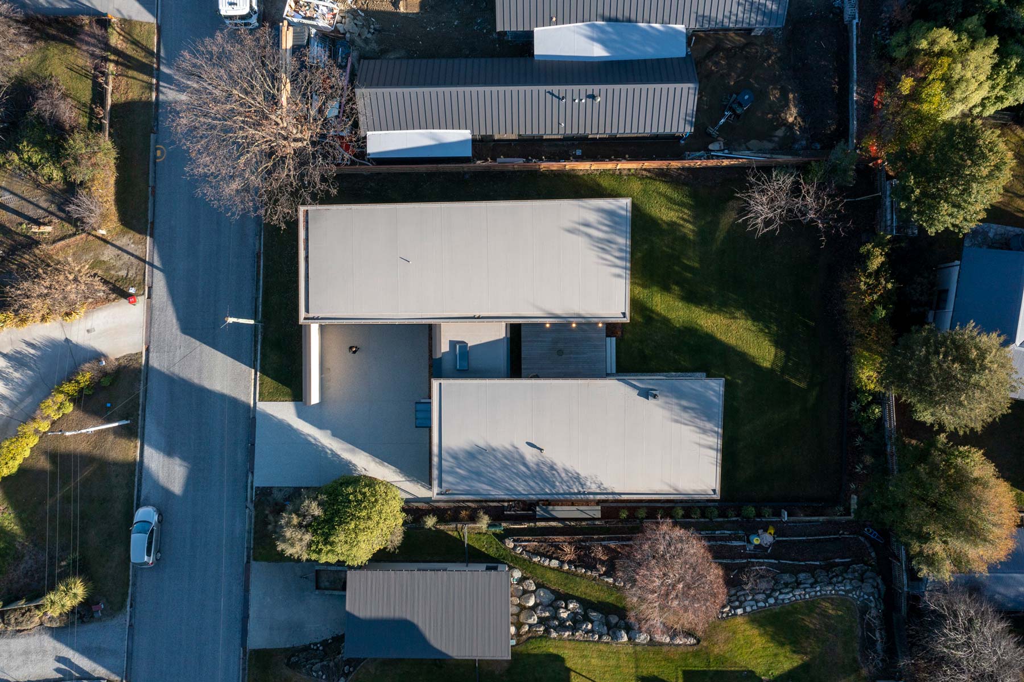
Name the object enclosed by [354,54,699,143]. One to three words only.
house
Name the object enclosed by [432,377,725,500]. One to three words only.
house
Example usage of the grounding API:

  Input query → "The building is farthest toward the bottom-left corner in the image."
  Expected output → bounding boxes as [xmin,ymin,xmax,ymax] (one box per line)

[344,554,512,661]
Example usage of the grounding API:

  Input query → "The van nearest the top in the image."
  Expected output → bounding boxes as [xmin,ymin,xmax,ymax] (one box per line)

[219,0,256,30]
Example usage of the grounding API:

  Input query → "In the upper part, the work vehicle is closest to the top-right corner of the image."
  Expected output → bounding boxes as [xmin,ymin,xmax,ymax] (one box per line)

[700,84,759,139]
